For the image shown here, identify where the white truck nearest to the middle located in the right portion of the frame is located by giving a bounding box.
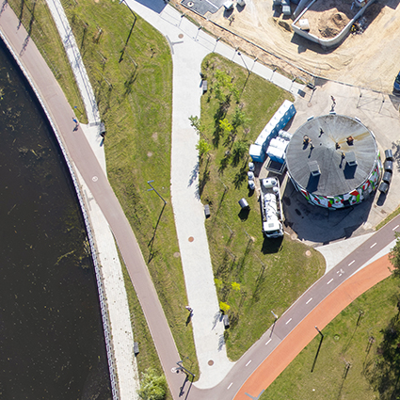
[253,172,281,238]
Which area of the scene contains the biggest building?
right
